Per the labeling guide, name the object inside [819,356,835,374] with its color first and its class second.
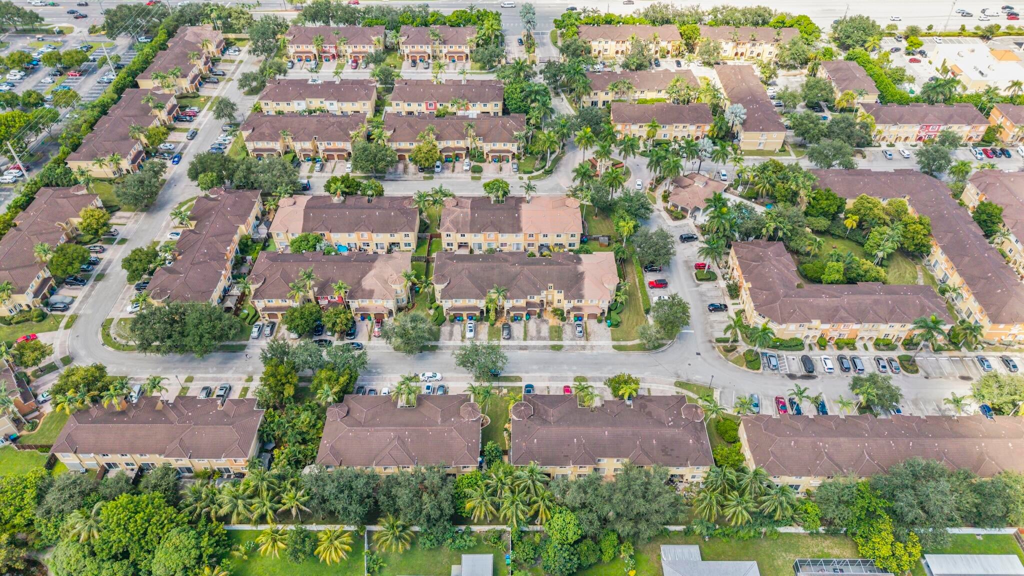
white car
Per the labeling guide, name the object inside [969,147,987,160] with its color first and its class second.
white vehicle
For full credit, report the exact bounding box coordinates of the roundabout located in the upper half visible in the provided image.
[559,145,648,196]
